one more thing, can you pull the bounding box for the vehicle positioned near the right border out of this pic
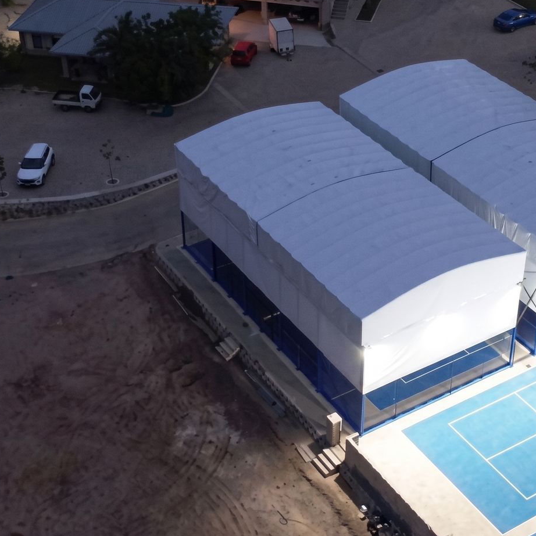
[491,7,536,33]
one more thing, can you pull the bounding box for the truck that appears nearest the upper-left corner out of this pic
[49,80,101,110]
